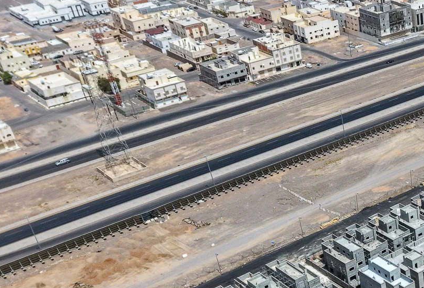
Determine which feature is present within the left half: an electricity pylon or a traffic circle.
electricity pylon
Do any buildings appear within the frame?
Yes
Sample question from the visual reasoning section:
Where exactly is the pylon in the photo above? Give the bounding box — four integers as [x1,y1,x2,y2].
[75,52,135,170]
